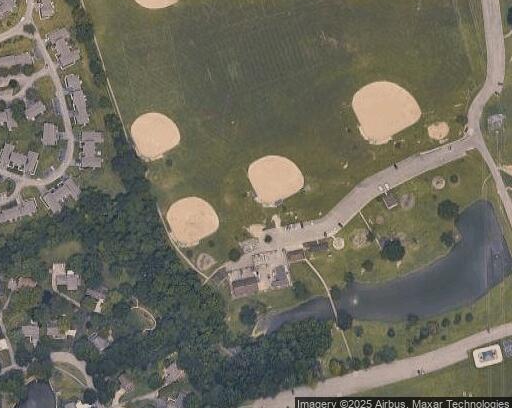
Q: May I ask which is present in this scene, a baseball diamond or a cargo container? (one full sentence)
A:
Of the two, only a baseball diamond appears.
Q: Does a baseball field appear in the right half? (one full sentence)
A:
Yes, a baseball field shows up in the right half.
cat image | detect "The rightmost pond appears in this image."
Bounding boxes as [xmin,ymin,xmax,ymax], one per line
[254,200,512,335]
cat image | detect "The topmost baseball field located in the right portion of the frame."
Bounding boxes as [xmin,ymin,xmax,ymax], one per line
[352,80,422,145]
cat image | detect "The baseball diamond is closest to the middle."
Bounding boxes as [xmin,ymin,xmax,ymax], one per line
[247,154,305,208]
